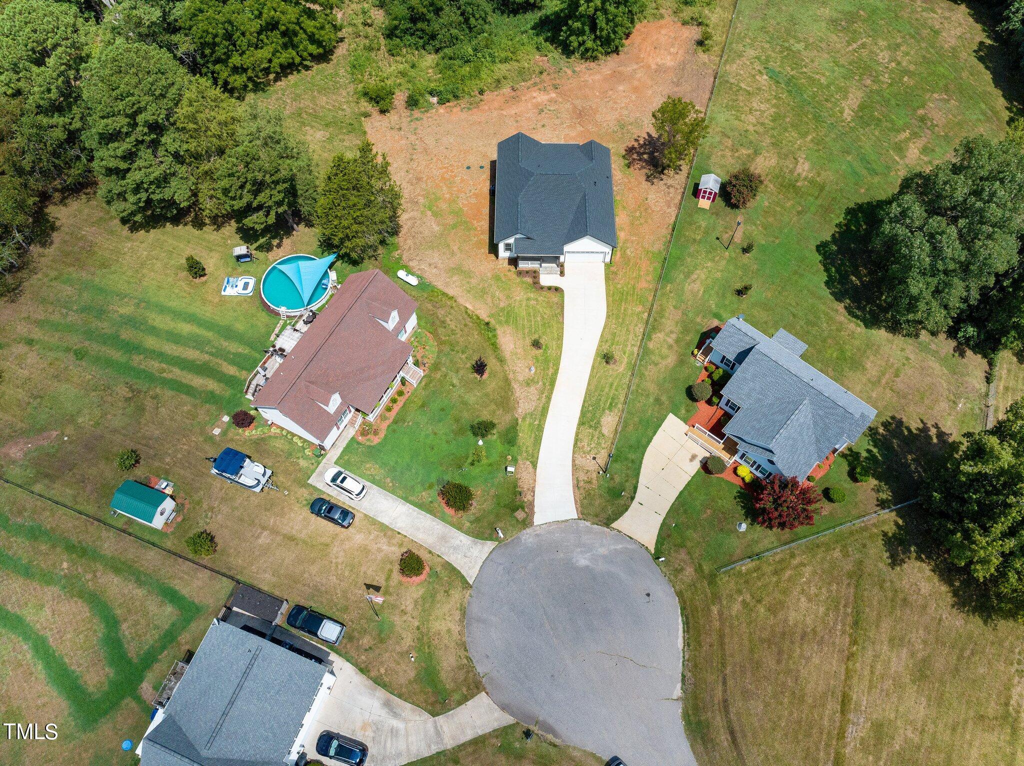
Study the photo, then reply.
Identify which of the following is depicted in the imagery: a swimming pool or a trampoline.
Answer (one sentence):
This aerial view contains a swimming pool.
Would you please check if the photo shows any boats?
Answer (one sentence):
Yes, there is a boat in the image.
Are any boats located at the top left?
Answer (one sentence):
No, no boat appears at the top left.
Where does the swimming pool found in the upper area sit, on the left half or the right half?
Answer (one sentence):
You can find the swimming pool found in the upper area on the left side of the picture.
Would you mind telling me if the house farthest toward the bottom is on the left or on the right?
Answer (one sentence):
You can find the house farthest toward the bottom on the left side of the picture.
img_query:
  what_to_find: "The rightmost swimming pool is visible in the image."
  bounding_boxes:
[260,254,333,323]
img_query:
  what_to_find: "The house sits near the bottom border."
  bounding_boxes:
[135,620,341,766]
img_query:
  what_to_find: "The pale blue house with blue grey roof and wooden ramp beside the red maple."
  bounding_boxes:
[682,310,877,487]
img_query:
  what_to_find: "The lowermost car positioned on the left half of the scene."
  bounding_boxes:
[315,733,370,766]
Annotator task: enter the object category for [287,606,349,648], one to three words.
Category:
truck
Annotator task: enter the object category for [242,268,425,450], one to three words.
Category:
house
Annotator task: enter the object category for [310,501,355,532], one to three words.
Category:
car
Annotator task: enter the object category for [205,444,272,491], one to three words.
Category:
boat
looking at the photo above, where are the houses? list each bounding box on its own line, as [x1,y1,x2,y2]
[682,310,877,487]
[493,132,618,279]
[135,620,341,766]
[242,268,425,450]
